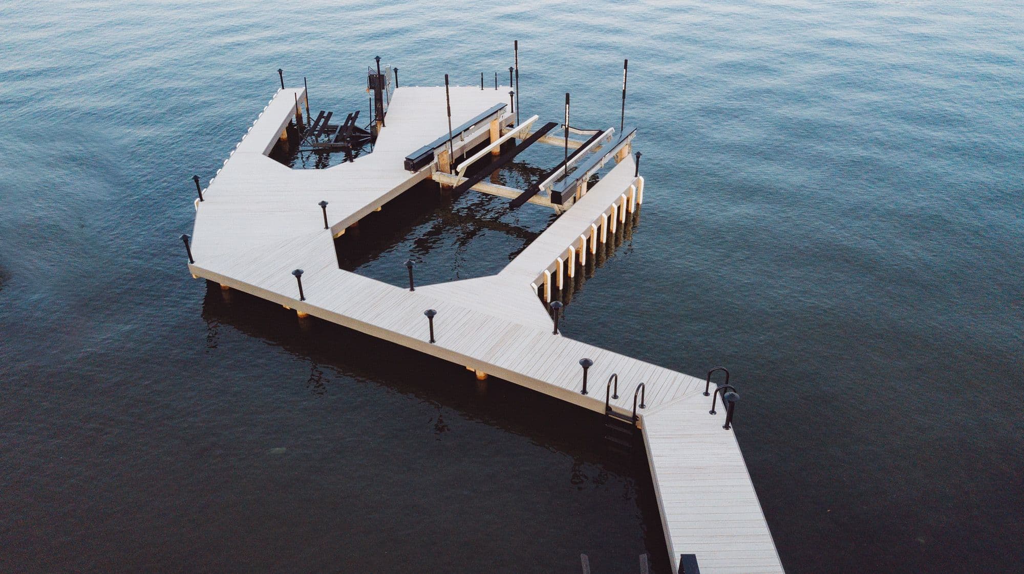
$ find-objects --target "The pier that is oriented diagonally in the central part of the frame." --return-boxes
[188,86,786,574]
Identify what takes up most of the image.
water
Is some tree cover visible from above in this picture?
No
